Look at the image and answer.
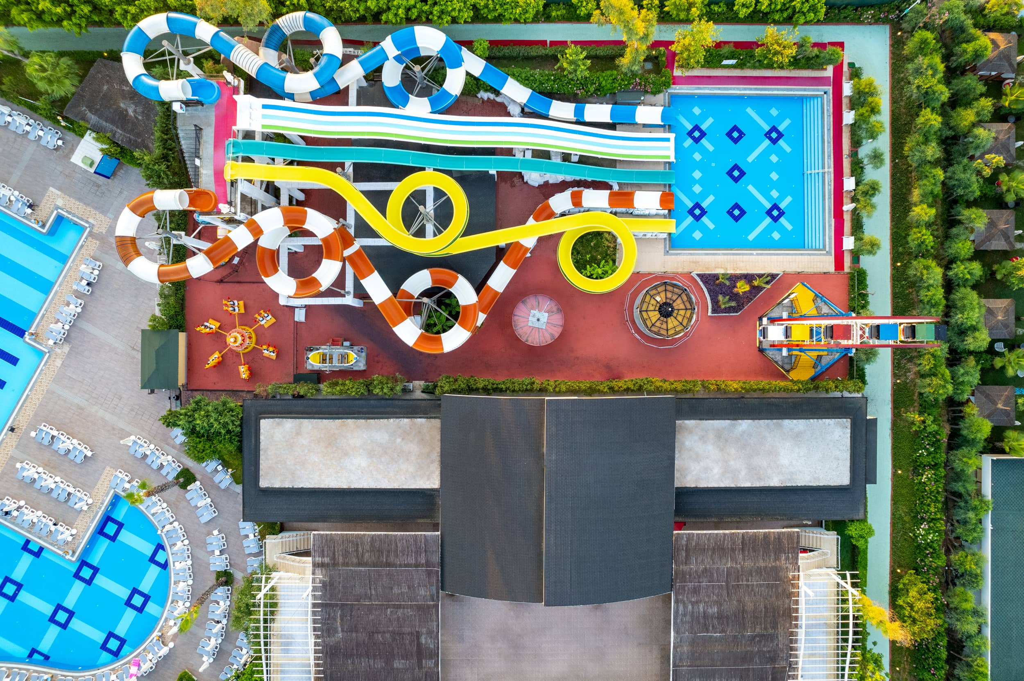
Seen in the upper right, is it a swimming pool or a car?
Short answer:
swimming pool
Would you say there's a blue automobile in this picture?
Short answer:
No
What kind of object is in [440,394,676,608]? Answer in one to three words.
building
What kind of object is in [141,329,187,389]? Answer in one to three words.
shed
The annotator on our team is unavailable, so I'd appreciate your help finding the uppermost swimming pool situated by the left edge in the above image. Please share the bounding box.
[0,212,84,430]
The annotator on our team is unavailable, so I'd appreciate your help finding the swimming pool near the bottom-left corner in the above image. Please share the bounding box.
[0,493,171,671]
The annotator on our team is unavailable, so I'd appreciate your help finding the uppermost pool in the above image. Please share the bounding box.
[671,94,823,249]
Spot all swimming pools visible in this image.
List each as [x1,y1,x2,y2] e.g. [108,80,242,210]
[671,94,823,249]
[0,493,171,671]
[0,212,84,430]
